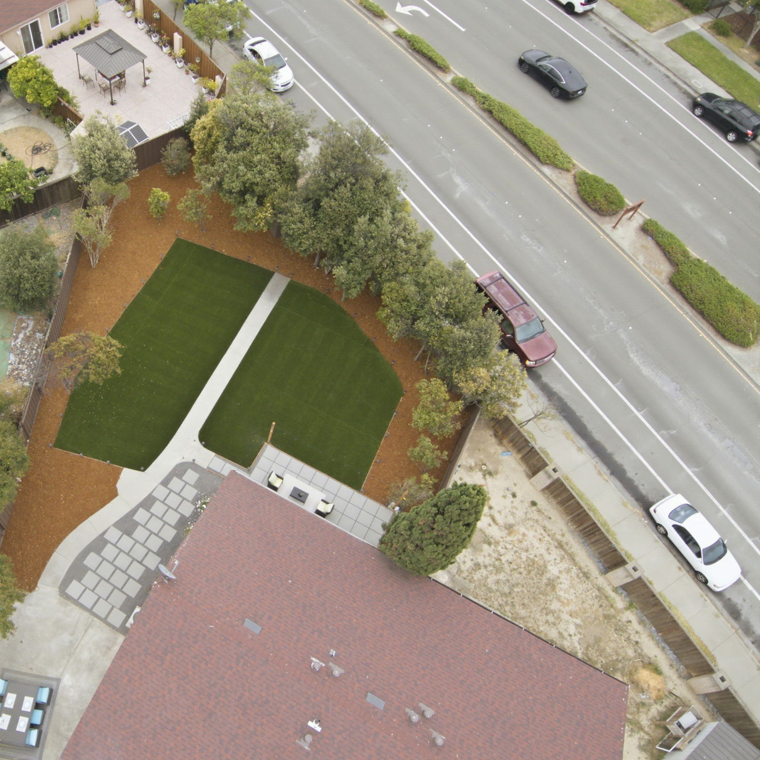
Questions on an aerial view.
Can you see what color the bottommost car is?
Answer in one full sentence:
The color of the bottommost car is white.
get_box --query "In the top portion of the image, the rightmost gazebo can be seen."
[73,30,147,104]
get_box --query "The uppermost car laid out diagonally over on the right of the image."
[516,47,590,103]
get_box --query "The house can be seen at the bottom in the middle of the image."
[61,468,629,760]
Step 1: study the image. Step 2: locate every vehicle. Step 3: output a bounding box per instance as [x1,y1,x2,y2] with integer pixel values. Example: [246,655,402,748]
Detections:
[651,499,746,599]
[231,28,294,90]
[692,89,760,147]
[471,261,563,367]
[516,47,590,103]
[558,0,602,19]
